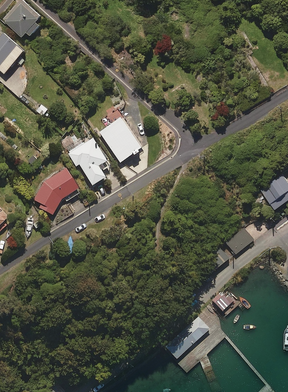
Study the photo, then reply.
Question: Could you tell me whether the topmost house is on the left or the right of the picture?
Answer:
left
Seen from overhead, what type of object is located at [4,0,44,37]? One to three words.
house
